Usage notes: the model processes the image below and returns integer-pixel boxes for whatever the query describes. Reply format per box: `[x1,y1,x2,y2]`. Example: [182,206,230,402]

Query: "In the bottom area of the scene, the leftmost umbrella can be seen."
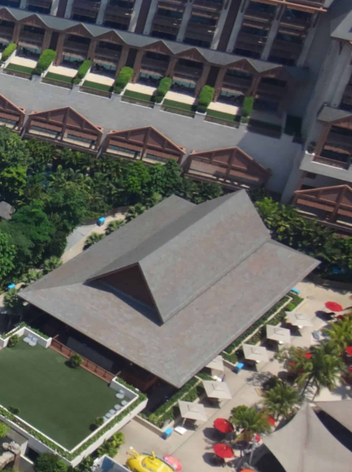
[175,399,210,430]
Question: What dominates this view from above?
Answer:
buildings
